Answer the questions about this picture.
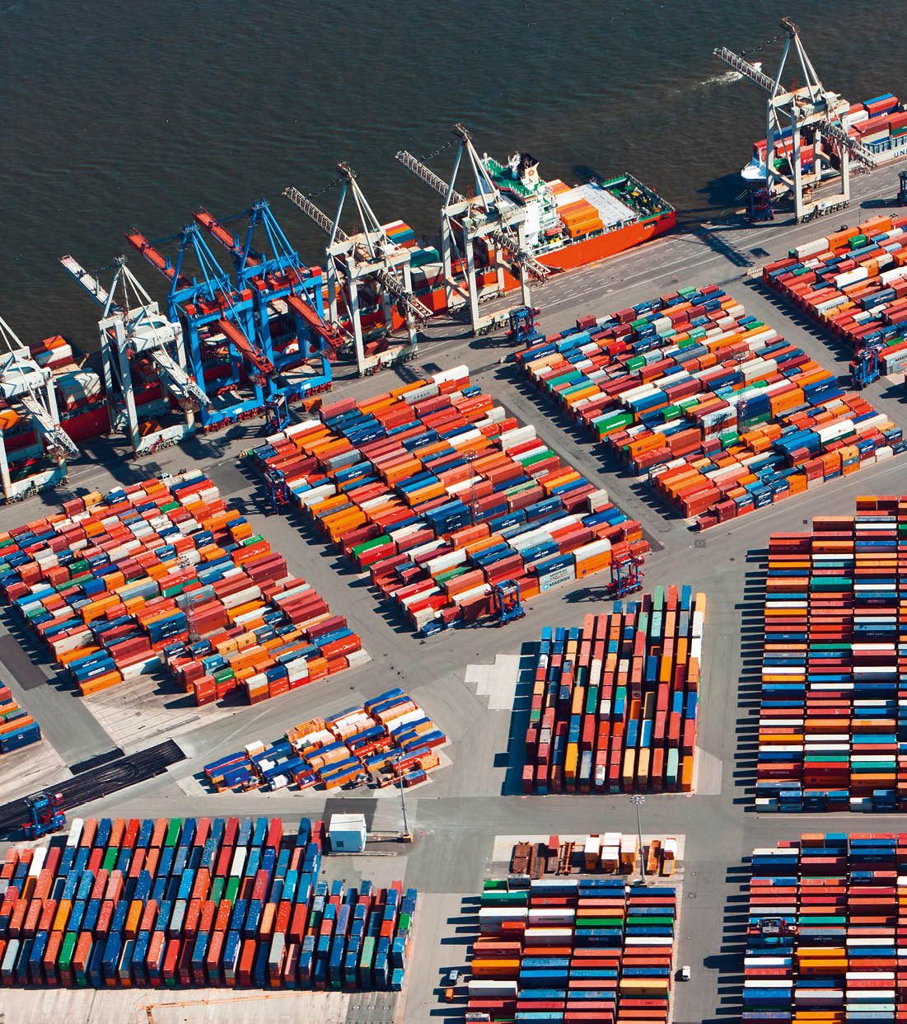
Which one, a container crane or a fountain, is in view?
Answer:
container crane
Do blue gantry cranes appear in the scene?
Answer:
Yes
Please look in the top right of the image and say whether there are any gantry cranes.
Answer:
Yes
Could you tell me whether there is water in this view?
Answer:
Yes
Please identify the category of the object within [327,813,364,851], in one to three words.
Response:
shed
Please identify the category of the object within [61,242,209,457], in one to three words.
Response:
container crane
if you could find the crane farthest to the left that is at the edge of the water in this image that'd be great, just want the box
[0,295,80,502]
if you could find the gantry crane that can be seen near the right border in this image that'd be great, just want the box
[714,15,885,223]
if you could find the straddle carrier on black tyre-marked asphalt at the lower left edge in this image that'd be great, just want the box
[21,783,67,839]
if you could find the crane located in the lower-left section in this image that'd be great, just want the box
[127,988,322,1024]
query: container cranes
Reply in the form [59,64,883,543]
[714,15,885,223]
[282,160,439,376]
[125,223,285,432]
[395,122,556,336]
[195,199,357,405]
[0,295,80,502]
[61,242,209,457]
